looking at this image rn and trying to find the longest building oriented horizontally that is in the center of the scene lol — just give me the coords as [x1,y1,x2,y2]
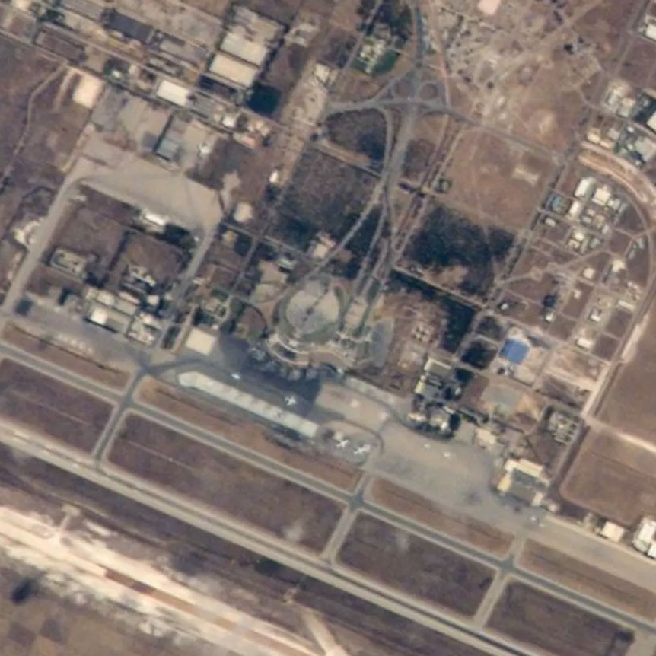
[266,331,370,373]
